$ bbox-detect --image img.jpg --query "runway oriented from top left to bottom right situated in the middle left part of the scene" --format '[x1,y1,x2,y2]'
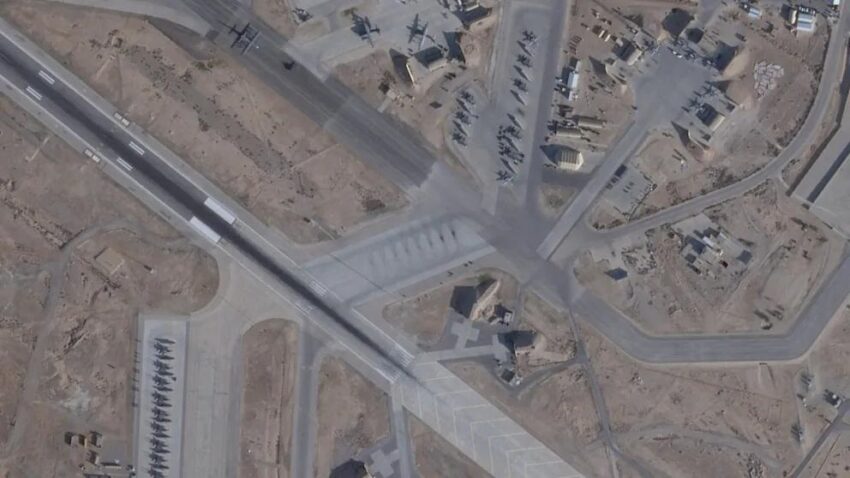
[0,30,413,382]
